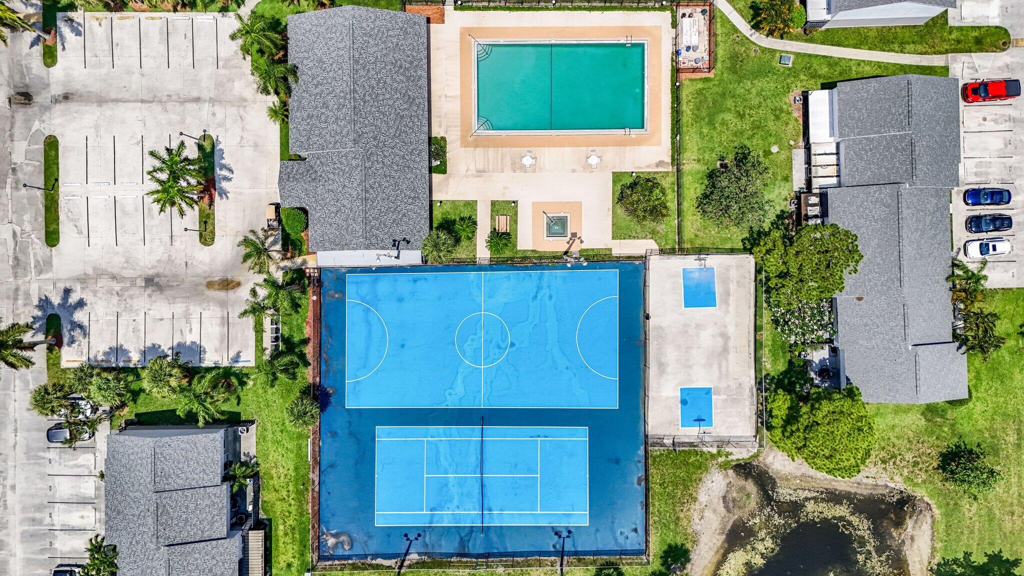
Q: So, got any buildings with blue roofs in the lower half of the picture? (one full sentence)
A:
No, there is no building with a blue roof in the lower half of the picture.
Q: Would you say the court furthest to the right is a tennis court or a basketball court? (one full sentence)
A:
From above, the court furthest to the right can be identified as a basketball court.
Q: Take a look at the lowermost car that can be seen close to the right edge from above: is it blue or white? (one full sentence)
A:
In this view, the lowermost car that can be seen close to the right edge is white.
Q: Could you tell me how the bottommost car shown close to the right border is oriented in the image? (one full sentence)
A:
From this overhead view, the bottommost car shown close to the right border appears to run from left to right.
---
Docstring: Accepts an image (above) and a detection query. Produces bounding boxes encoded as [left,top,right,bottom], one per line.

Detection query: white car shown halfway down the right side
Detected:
[962,238,1011,259]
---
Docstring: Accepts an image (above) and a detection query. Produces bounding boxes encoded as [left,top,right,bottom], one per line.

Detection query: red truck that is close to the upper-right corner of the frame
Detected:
[960,80,1020,104]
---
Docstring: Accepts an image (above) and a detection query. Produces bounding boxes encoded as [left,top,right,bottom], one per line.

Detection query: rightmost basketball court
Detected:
[647,254,757,444]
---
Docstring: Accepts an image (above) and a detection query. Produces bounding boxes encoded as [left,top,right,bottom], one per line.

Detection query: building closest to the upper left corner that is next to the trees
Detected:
[278,7,431,266]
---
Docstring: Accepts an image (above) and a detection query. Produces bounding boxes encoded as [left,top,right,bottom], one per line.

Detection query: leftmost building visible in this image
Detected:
[104,424,249,576]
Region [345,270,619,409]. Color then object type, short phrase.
blue sports court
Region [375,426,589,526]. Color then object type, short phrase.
blue tennis court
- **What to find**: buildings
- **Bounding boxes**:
[278,7,431,266]
[816,75,968,404]
[822,0,956,27]
[104,424,249,576]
